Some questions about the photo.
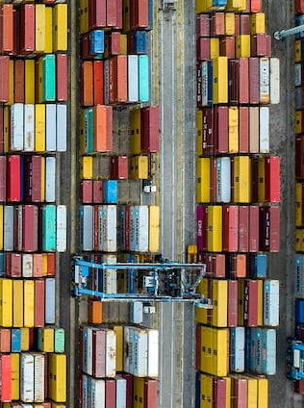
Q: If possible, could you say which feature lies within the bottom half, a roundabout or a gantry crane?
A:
gantry crane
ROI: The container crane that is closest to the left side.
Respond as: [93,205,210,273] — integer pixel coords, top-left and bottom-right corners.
[73,250,211,302]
